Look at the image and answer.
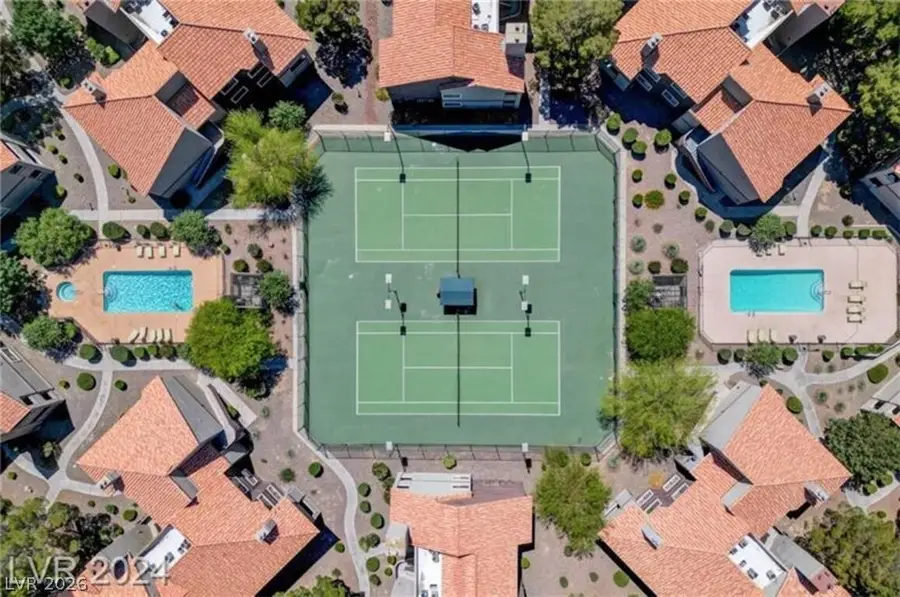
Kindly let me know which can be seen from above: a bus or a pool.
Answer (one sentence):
There is a pool in the scene.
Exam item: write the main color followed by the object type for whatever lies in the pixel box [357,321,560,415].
green tennis court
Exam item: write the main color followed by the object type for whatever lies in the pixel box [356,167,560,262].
green tennis court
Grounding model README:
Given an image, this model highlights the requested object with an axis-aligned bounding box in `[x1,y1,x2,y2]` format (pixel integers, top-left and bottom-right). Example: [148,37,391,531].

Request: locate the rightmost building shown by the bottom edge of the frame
[595,382,855,597]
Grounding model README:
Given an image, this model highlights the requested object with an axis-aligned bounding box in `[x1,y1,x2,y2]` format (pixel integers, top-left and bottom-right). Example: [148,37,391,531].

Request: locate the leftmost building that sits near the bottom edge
[76,375,323,597]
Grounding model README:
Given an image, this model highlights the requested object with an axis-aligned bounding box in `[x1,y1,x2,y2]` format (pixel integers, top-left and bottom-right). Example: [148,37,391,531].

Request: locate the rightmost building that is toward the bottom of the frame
[861,375,900,429]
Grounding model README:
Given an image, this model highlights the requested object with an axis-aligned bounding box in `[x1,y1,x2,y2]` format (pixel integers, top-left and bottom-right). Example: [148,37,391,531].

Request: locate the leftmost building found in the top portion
[0,118,54,223]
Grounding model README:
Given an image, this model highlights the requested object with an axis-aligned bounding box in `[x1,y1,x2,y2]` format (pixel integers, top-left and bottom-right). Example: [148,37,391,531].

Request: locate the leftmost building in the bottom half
[0,336,65,468]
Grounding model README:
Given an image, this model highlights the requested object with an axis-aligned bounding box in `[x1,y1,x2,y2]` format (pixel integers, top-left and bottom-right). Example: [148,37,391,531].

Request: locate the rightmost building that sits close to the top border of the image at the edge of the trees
[595,0,856,205]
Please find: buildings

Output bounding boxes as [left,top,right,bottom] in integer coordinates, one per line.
[0,336,65,468]
[861,375,900,429]
[0,118,54,223]
[863,141,900,218]
[595,382,855,597]
[595,0,856,205]
[76,375,323,597]
[379,0,528,105]
[62,0,313,197]
[386,476,533,597]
